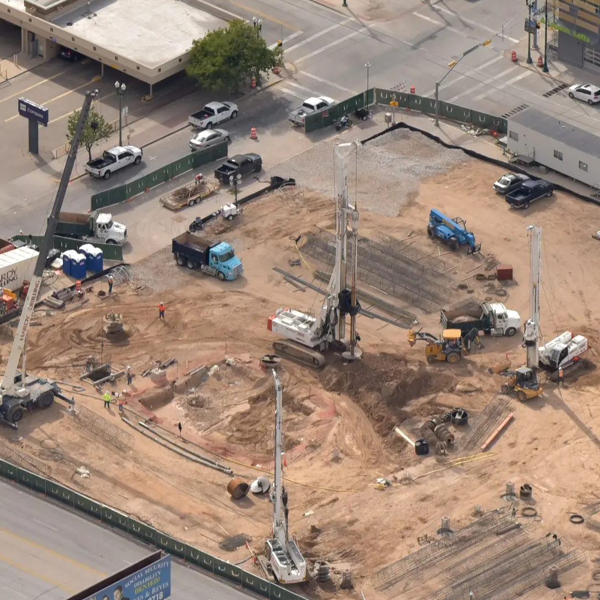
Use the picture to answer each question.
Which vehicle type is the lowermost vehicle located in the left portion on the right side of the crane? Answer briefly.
truck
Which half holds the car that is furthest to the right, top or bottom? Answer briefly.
top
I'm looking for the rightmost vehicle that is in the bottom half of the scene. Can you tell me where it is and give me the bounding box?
[489,359,545,398]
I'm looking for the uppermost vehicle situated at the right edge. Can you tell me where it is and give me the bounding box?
[565,81,600,105]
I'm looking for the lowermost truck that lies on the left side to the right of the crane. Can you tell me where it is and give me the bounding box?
[170,225,243,279]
